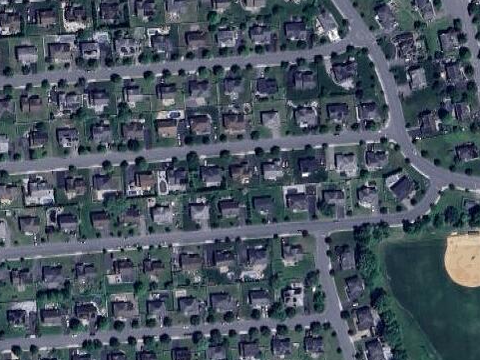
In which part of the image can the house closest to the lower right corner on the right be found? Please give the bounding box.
[365,340,388,360]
